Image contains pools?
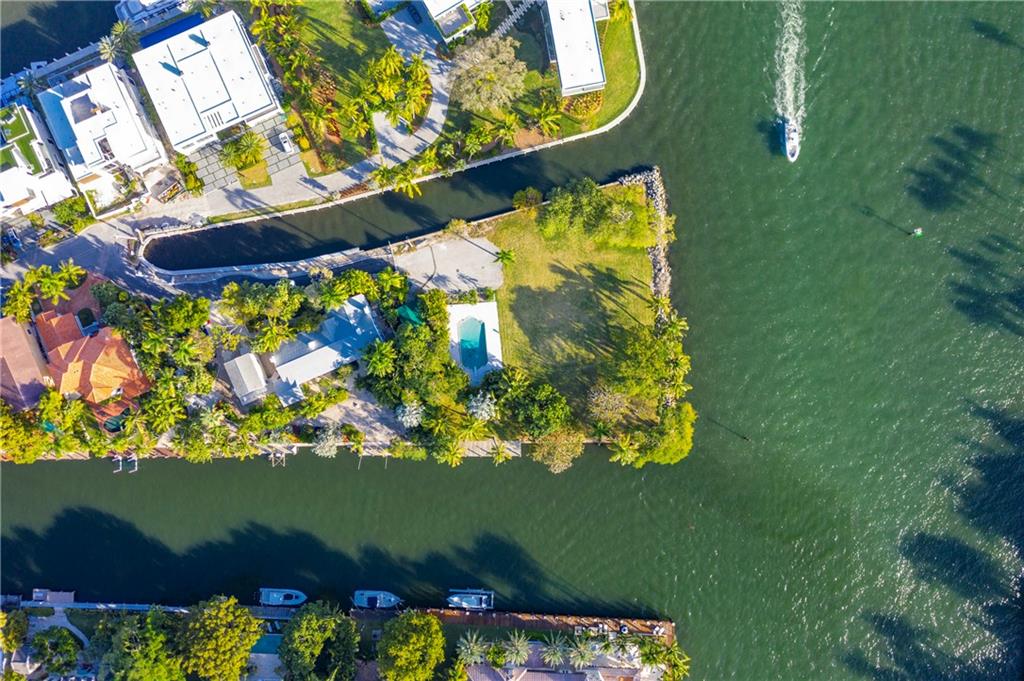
Yes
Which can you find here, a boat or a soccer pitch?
boat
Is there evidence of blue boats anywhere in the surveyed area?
Yes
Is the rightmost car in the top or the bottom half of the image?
top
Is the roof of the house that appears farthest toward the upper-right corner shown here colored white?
Yes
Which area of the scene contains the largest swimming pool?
center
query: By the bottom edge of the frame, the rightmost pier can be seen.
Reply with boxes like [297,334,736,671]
[424,609,675,648]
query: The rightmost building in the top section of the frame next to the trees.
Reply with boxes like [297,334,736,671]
[544,0,609,102]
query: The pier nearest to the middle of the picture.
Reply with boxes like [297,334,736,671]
[460,444,521,458]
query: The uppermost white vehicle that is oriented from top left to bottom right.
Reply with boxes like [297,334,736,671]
[277,131,296,154]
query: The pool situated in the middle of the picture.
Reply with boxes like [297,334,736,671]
[447,302,503,387]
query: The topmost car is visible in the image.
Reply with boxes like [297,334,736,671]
[405,2,425,26]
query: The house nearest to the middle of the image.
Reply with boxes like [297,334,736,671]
[266,294,384,406]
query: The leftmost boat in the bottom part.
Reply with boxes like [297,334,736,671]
[258,588,306,605]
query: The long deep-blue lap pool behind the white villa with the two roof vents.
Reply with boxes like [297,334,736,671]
[137,10,208,49]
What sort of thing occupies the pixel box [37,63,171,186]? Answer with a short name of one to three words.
house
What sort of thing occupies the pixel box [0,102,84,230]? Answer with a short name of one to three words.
house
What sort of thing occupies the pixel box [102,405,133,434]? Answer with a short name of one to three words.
swimming pool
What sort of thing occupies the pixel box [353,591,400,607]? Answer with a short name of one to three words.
boat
